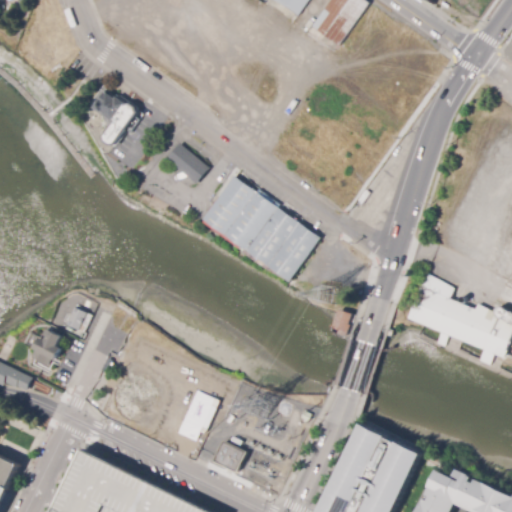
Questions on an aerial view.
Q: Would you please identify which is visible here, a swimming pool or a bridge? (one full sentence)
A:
It is a bridge that can be seen here.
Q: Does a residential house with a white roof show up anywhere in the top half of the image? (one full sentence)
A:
Yes, in the top half of the image there is a residential house with a white roof.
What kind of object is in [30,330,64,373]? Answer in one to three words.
house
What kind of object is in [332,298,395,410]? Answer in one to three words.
bridge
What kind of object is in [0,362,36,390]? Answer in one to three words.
shed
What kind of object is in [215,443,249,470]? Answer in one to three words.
building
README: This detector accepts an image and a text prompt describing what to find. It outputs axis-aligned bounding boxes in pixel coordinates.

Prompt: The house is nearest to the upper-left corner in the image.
[93,91,128,119]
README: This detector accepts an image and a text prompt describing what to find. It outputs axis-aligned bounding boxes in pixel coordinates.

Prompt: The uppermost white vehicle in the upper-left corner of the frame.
[64,7,76,26]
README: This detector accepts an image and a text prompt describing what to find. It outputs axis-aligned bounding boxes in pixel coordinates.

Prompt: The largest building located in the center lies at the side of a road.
[203,178,323,281]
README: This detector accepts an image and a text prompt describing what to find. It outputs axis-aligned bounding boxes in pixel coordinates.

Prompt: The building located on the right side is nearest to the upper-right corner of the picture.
[308,0,377,52]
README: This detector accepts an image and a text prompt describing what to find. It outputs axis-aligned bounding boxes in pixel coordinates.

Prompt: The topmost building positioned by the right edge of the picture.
[408,275,512,365]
